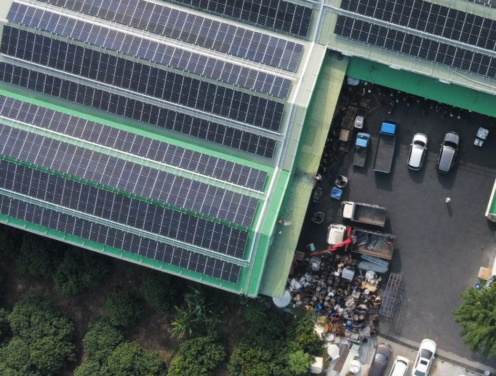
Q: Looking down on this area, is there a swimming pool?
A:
No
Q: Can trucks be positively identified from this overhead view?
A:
Yes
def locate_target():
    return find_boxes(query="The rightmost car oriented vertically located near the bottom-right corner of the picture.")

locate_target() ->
[413,337,435,376]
